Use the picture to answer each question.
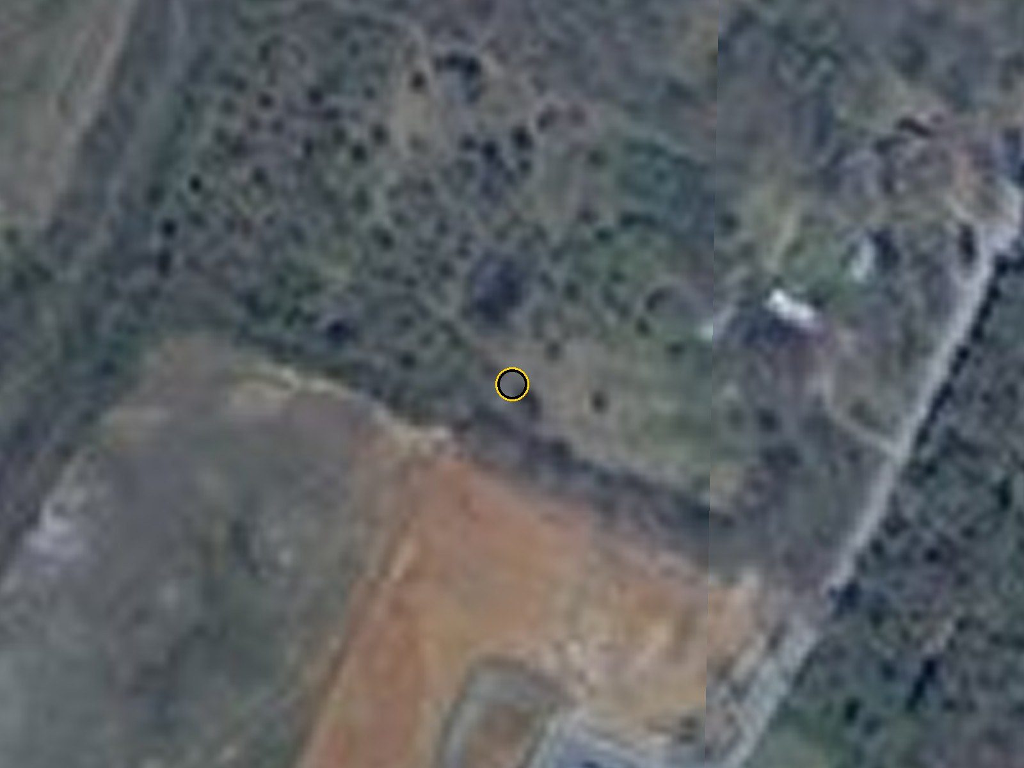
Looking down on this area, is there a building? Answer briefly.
Yes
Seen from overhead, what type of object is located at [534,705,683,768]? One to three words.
house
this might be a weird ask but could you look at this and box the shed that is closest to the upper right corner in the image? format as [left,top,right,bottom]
[854,232,875,280]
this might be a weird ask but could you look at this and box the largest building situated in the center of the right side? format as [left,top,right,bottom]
[737,308,799,358]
